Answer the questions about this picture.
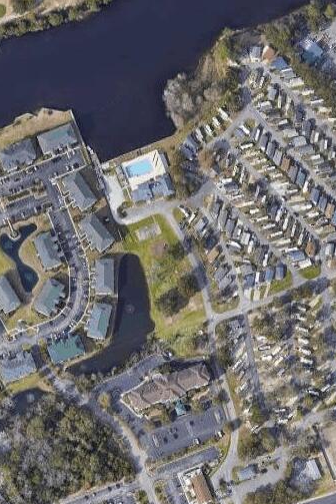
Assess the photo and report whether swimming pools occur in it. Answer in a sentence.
Yes, I can see a swimming pool in this picture.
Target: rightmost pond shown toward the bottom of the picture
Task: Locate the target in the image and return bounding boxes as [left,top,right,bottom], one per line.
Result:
[63,253,154,374]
